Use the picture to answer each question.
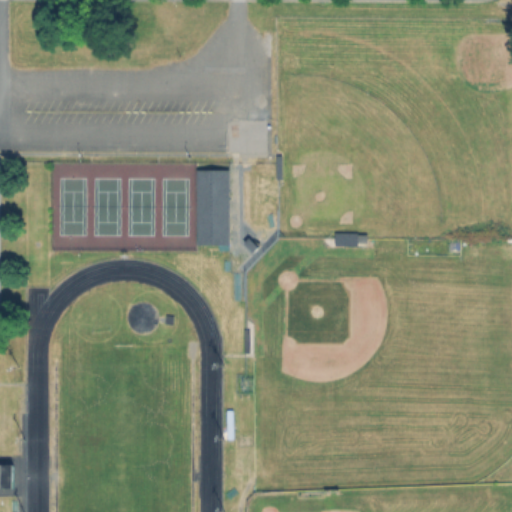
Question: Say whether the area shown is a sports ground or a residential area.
sports ground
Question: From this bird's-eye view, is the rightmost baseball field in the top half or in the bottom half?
top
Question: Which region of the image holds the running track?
bottom left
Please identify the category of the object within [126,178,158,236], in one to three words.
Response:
tennis court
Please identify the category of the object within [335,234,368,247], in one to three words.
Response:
building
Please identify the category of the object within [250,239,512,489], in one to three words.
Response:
baseball field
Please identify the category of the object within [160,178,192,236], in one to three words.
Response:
tennis court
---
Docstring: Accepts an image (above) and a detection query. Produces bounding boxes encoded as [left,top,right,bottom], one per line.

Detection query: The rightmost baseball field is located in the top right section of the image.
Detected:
[456,34,512,89]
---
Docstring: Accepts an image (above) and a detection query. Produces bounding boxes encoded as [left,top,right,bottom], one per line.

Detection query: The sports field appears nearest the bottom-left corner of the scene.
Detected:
[48,280,202,512]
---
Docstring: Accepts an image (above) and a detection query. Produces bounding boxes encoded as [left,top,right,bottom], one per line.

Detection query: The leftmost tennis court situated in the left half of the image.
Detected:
[58,178,90,236]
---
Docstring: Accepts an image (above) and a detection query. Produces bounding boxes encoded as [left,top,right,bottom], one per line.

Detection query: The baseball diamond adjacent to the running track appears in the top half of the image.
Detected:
[279,20,512,237]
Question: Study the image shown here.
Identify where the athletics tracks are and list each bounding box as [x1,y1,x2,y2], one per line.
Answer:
[28,260,222,512]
